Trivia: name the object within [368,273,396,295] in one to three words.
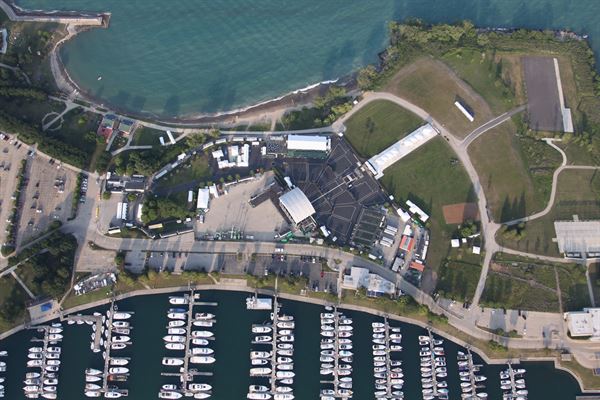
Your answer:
building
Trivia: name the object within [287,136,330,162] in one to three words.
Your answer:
building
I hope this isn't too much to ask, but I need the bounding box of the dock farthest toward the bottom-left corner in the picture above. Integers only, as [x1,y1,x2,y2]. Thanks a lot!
[21,322,63,395]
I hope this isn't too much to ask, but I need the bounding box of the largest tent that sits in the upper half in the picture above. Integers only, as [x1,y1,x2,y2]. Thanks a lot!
[363,121,438,175]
